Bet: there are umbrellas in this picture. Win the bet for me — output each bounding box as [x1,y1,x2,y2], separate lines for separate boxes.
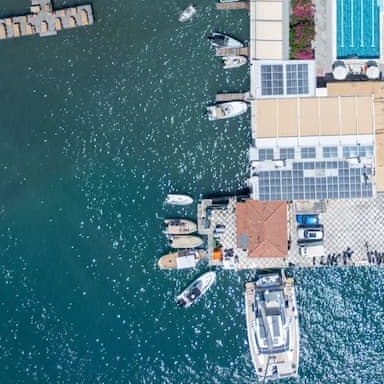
[364,64,380,78]
[332,64,348,79]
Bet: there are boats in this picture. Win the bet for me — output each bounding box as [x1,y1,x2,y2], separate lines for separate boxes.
[244,257,299,384]
[203,102,247,119]
[179,3,197,19]
[218,55,248,68]
[165,235,201,247]
[159,219,196,235]
[204,28,243,47]
[161,193,193,204]
[173,272,215,308]
[159,249,203,271]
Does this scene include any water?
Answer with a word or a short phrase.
Yes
